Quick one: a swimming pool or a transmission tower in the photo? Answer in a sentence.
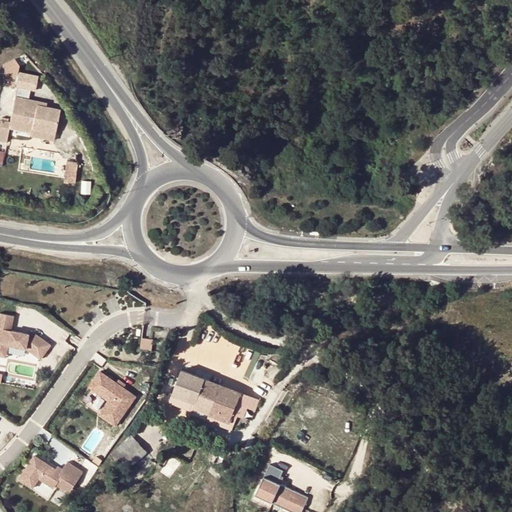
It is a swimming pool that can be seen here.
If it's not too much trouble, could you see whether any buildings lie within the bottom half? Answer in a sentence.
Yes, looking within the bottom half, one can make out a building.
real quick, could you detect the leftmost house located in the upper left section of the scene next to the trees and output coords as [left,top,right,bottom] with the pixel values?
[0,59,60,142]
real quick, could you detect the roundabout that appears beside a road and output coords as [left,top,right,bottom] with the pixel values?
[122,160,246,286]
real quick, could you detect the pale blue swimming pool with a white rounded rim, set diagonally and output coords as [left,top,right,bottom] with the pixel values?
[84,430,102,452]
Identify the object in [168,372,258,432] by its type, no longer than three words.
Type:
house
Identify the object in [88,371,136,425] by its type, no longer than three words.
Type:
house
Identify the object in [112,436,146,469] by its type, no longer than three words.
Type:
building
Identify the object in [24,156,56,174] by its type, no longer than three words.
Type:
swimming pool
